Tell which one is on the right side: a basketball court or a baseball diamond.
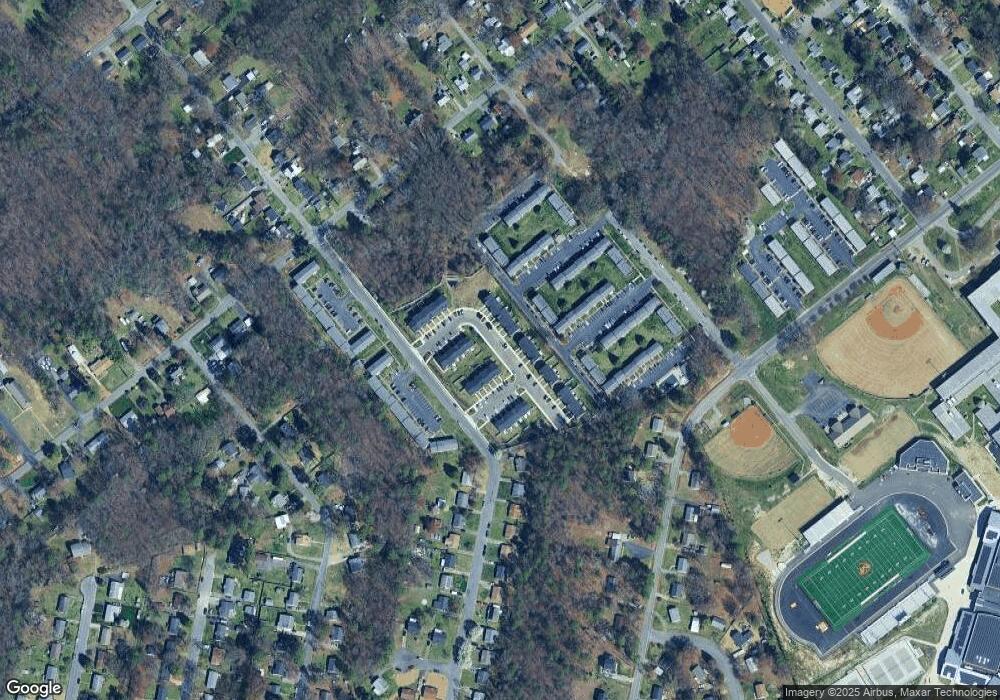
baseball diamond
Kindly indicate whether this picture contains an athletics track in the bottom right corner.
Yes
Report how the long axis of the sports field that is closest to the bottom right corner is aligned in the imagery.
diagonally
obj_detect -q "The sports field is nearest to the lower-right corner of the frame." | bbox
[798,506,932,630]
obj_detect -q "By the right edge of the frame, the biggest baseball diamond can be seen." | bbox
[816,274,971,398]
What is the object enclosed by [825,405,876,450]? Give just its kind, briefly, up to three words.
building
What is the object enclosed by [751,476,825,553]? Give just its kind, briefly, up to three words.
sports field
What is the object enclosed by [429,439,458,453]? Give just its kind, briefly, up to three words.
building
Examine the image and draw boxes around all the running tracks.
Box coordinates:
[777,492,959,658]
